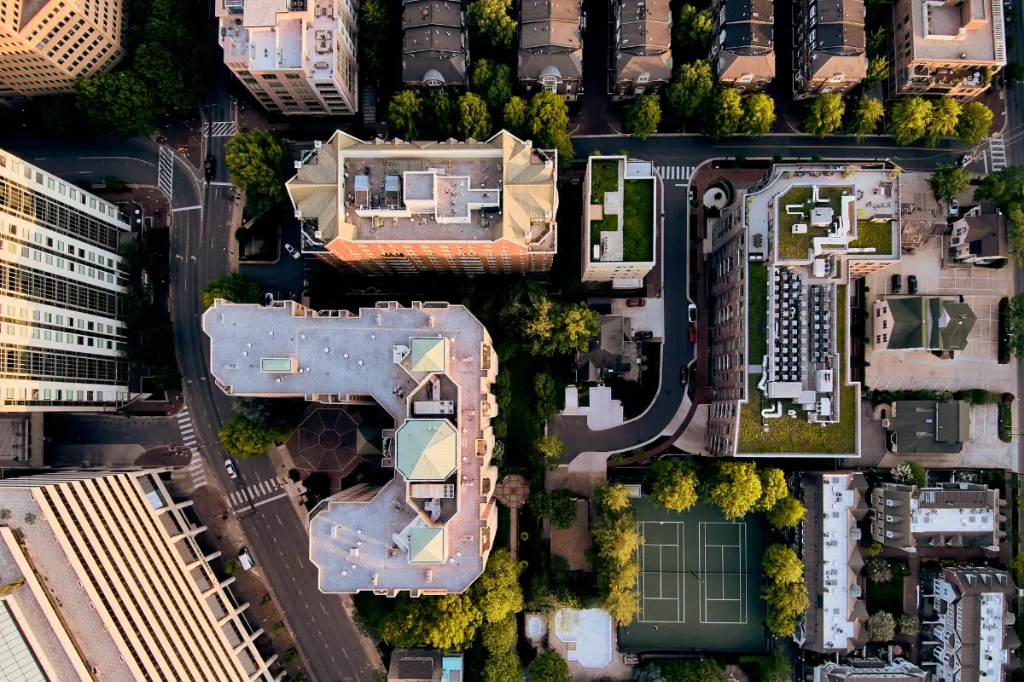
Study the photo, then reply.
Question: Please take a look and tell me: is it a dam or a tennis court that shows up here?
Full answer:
The image shows a tennis court.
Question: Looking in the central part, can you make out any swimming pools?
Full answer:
No, in the central part there is no swimming pool.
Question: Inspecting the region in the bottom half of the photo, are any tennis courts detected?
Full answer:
Yes, in the bottom half of the photo there is a tennis court.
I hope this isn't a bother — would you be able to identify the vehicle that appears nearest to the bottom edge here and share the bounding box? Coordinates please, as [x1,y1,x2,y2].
[239,546,253,571]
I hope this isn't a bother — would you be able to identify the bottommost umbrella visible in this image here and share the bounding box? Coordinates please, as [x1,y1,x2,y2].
[889,643,904,658]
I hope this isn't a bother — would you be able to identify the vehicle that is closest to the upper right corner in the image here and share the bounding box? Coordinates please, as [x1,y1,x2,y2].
[952,152,971,164]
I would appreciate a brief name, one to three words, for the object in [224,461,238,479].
car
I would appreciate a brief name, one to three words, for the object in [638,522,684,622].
tennis court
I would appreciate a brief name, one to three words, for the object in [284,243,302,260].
car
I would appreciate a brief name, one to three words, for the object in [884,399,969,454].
building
